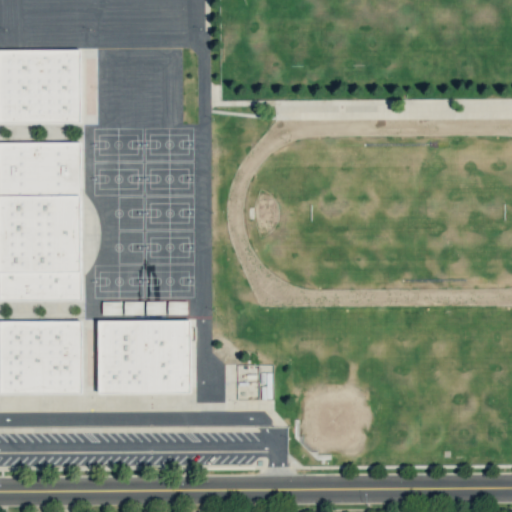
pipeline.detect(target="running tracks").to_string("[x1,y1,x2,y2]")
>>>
[228,120,512,306]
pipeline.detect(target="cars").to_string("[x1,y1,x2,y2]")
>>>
[208,456,216,464]
[194,454,202,462]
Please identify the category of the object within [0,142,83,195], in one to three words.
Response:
building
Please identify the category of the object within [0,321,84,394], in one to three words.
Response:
building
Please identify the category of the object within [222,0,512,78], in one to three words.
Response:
sports field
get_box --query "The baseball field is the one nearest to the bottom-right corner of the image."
[295,384,373,464]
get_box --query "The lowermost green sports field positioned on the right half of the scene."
[246,136,512,290]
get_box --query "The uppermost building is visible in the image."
[0,49,82,122]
